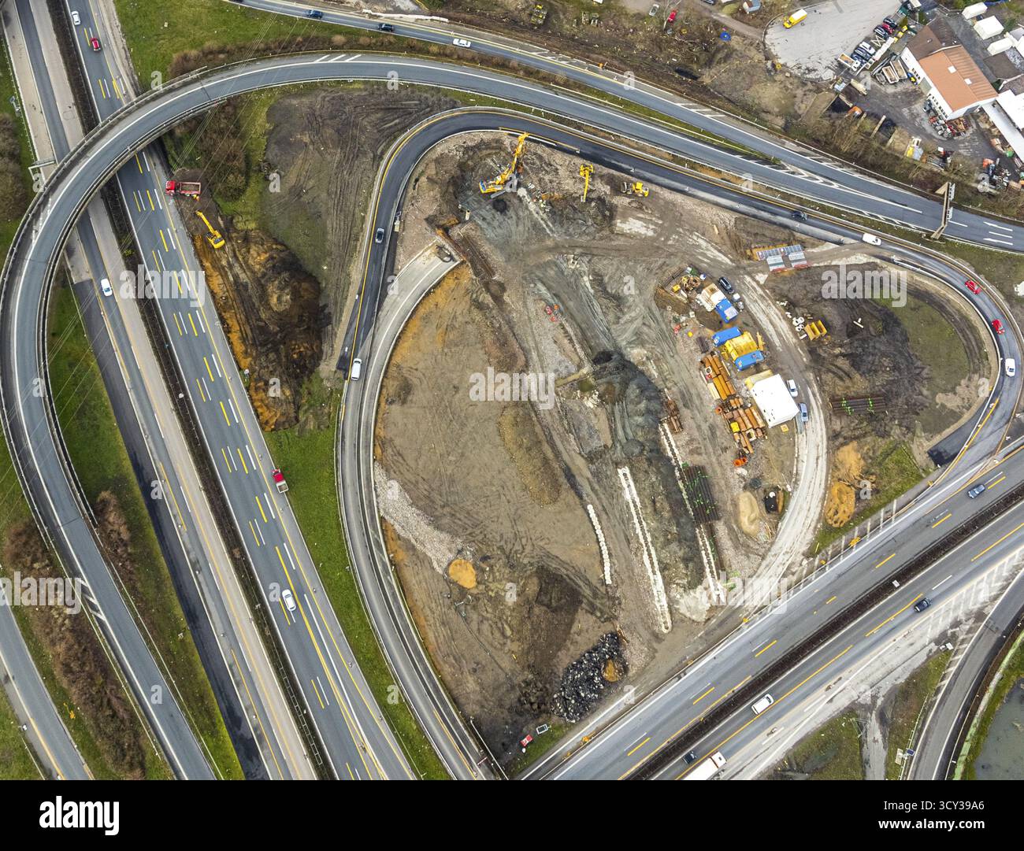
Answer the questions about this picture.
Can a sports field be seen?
No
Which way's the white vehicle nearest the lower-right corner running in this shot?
on a diagonal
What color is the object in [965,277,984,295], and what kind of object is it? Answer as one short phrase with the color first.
red car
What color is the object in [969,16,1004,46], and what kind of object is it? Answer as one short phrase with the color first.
white tent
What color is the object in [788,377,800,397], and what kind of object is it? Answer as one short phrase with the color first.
white vehicle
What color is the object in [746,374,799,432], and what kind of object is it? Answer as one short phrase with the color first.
white tent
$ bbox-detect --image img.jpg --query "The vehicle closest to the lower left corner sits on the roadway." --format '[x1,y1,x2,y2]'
[281,589,296,612]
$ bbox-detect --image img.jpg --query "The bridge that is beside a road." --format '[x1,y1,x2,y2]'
[0,64,224,547]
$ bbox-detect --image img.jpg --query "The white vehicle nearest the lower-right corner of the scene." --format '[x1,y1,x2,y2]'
[751,693,775,715]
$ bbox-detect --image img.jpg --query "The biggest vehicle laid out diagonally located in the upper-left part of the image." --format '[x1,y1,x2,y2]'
[199,215,226,248]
